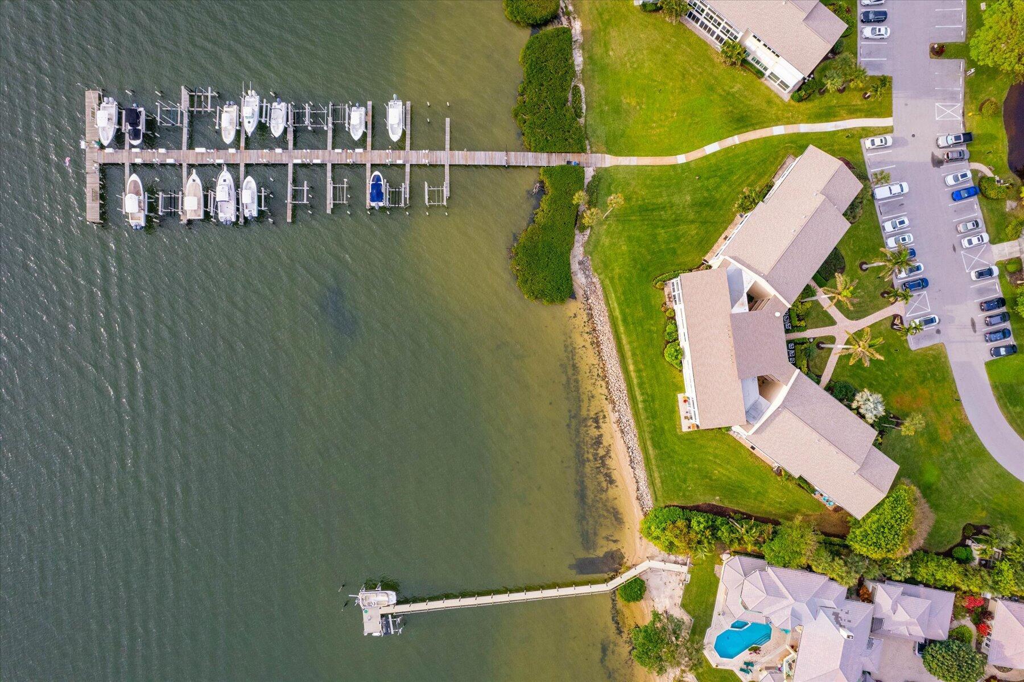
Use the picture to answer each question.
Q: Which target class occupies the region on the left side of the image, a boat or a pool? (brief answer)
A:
boat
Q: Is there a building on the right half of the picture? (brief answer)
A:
Yes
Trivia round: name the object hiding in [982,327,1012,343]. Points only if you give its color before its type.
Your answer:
blue car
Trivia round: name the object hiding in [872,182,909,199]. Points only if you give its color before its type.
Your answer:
white vehicle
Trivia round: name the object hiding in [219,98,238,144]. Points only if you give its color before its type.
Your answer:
white boat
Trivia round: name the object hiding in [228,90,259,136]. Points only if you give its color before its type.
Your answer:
white boat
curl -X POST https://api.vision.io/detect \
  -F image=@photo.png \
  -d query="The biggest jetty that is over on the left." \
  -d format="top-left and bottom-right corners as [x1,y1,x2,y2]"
[85,86,608,224]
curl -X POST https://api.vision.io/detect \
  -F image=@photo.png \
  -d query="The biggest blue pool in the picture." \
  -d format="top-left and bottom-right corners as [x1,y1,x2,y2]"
[712,621,774,661]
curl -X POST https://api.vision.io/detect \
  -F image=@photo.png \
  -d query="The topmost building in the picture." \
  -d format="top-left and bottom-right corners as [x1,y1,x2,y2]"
[676,0,847,103]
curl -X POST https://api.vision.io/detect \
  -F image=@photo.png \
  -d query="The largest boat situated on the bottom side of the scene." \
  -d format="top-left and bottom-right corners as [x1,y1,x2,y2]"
[353,592,397,606]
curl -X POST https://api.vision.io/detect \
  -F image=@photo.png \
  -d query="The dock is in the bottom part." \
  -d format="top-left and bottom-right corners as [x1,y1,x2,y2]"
[363,558,688,634]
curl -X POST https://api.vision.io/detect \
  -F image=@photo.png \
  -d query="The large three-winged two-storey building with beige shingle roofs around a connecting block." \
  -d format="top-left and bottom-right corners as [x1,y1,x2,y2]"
[670,145,899,520]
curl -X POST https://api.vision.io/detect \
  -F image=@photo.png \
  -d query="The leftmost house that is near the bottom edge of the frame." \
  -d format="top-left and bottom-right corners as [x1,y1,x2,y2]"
[720,555,883,682]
